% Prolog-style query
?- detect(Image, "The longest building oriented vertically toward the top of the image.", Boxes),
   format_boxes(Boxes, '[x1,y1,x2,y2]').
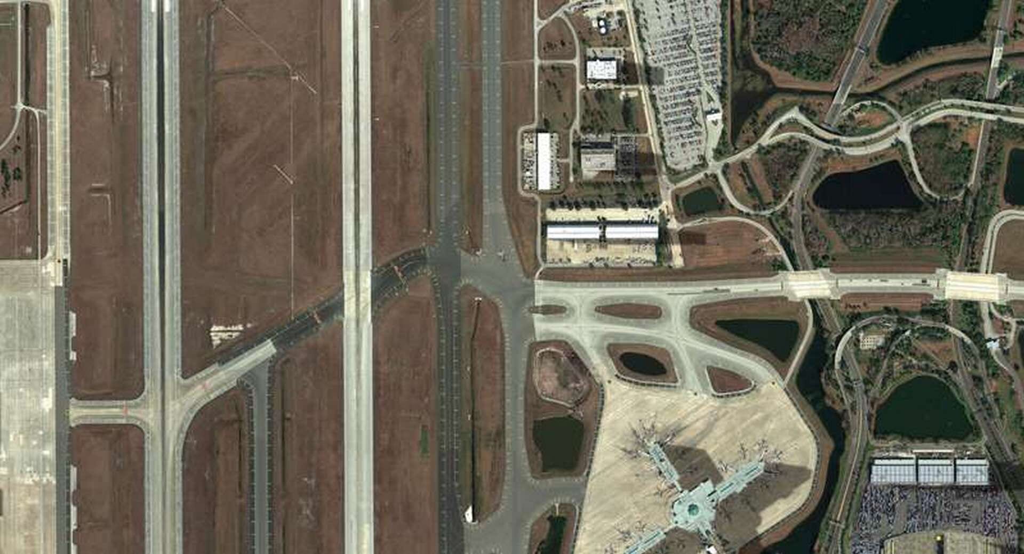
[538,132,550,189]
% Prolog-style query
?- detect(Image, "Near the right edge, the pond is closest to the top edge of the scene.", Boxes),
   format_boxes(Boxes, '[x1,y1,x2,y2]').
[877,0,991,66]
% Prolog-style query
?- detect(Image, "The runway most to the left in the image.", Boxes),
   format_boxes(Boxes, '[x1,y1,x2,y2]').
[141,0,183,554]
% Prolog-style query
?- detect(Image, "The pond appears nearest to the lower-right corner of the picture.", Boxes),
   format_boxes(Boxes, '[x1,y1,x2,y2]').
[876,374,976,440]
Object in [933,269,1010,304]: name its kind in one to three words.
bridge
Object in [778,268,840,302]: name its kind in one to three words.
bridge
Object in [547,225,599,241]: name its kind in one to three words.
hangar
